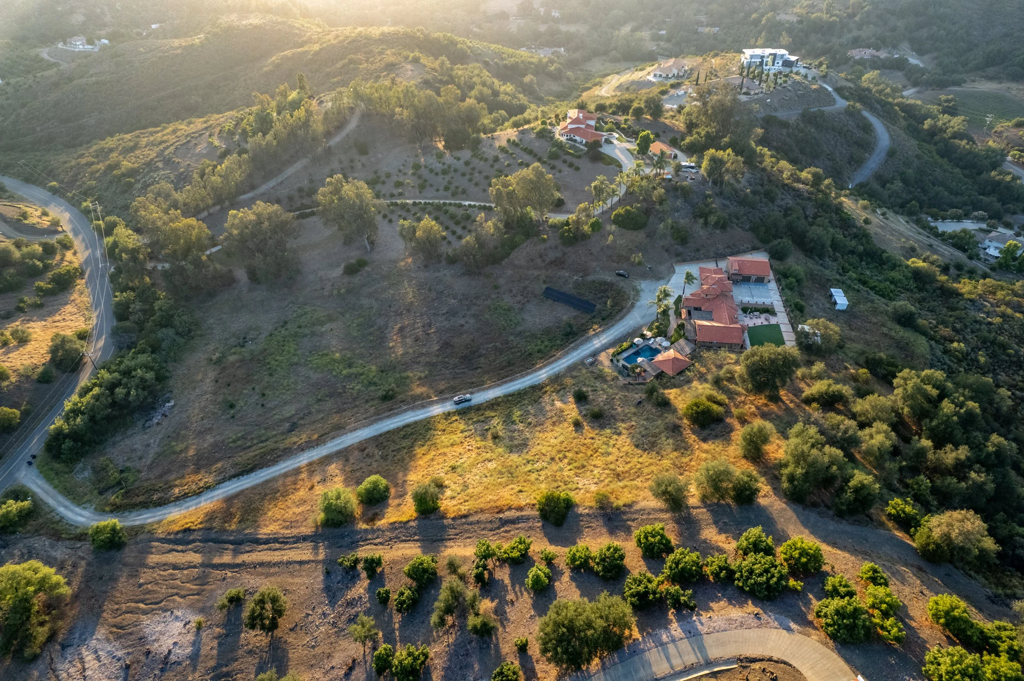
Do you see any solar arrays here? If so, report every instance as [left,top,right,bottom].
[542,287,596,314]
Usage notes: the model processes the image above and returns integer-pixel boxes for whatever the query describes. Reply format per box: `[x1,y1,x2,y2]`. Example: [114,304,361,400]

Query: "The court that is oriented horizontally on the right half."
[736,282,772,300]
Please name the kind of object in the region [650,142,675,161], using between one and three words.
building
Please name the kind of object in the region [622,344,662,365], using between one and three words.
swimming pool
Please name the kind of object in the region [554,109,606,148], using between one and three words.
house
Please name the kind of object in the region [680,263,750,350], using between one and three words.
house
